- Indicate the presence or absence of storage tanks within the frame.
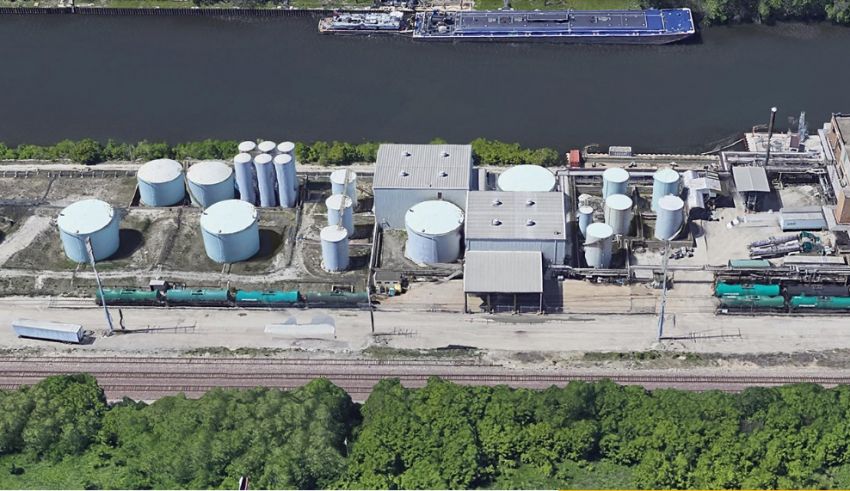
Yes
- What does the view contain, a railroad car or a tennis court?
railroad car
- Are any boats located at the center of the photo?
No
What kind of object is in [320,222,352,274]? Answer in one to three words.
storage tank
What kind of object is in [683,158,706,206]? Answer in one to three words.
shed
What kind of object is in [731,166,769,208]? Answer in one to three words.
shed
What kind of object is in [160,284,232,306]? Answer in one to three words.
rail car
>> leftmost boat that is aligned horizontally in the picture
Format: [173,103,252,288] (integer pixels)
[321,3,405,35]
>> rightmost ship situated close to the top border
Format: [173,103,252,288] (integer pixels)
[412,9,695,43]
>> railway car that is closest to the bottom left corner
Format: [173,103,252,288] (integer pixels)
[90,284,163,305]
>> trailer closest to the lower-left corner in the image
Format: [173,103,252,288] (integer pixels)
[14,318,83,343]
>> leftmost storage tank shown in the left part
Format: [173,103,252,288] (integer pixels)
[56,200,122,266]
